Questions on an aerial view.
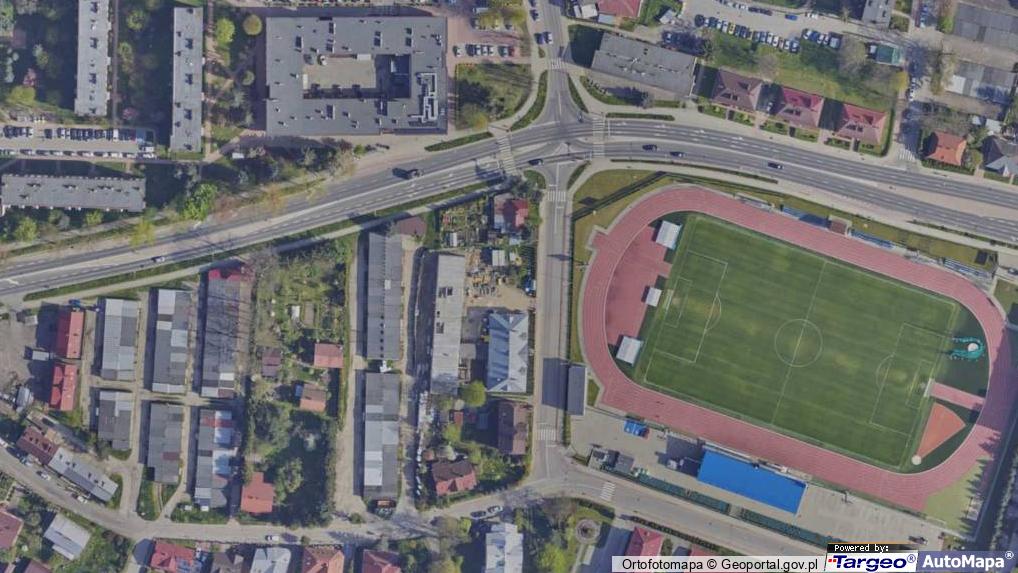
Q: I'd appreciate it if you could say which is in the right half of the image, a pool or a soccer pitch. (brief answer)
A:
soccer pitch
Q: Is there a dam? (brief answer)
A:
No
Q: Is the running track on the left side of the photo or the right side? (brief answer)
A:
right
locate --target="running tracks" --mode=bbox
[577,188,1018,508]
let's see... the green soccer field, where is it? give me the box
[635,217,958,469]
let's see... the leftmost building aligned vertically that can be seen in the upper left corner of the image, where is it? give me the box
[75,0,113,117]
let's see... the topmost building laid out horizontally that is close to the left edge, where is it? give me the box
[1,173,148,212]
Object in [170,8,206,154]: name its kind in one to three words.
building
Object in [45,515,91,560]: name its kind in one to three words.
house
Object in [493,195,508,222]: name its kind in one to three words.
house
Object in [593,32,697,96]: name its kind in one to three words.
building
